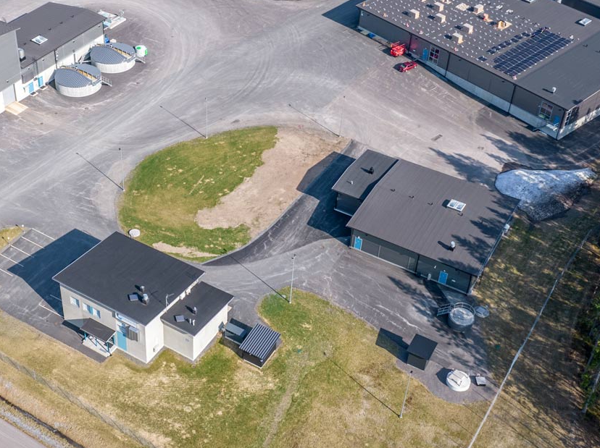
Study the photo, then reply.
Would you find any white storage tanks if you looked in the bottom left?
No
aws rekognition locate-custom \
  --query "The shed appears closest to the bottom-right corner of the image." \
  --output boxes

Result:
[406,335,437,372]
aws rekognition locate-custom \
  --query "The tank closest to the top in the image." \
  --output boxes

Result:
[89,43,145,75]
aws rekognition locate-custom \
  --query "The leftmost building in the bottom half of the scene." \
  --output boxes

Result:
[51,232,232,364]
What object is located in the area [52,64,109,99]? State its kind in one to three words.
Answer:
storage tank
